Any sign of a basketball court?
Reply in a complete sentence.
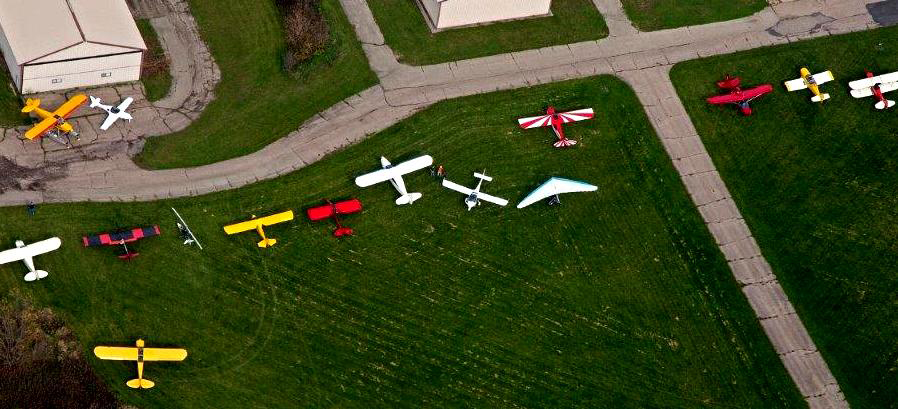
No, there isn't any basketball court down there.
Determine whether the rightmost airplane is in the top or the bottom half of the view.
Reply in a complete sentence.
Seen from above, the rightmost airplane lies in the top half of the view.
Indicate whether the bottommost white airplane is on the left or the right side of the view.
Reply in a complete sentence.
The bottommost white airplane appears in the left half of the scene.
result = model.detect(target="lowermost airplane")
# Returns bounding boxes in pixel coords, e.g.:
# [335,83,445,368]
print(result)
[95,338,187,389]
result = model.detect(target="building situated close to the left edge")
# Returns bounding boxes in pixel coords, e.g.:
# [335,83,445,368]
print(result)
[0,0,148,94]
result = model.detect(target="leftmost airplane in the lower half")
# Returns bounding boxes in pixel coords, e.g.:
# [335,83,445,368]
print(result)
[0,239,61,279]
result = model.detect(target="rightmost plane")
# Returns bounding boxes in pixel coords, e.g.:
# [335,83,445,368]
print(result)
[848,72,898,108]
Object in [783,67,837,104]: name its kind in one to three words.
airplane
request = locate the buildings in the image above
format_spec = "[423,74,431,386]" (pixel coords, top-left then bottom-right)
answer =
[0,0,148,94]
[415,0,556,32]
